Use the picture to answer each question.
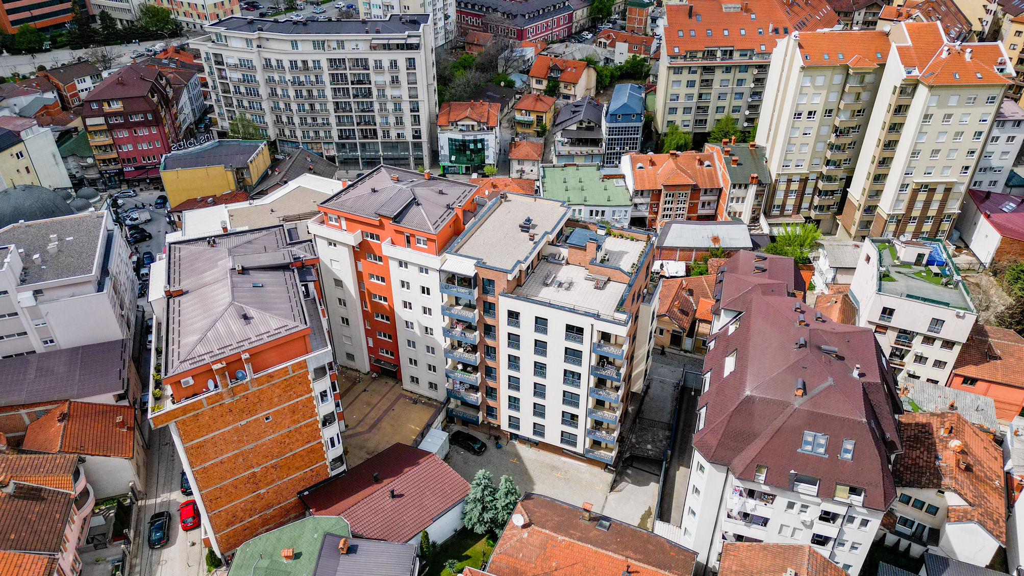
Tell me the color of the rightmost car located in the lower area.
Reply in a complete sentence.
In this view, the rightmost car located in the lower area is black.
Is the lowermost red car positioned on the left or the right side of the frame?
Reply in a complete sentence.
The lowermost red car sits on the left side.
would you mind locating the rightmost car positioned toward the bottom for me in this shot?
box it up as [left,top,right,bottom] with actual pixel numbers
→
[449,430,487,457]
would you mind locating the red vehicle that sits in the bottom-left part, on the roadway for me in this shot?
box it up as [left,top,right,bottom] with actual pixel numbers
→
[175,498,200,536]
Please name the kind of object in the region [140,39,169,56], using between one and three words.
vehicle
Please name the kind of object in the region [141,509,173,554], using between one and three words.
car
